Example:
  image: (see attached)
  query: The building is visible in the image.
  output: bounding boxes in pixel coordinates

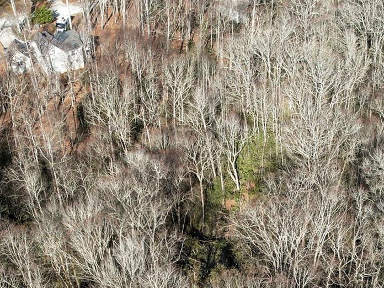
[8,19,98,78]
